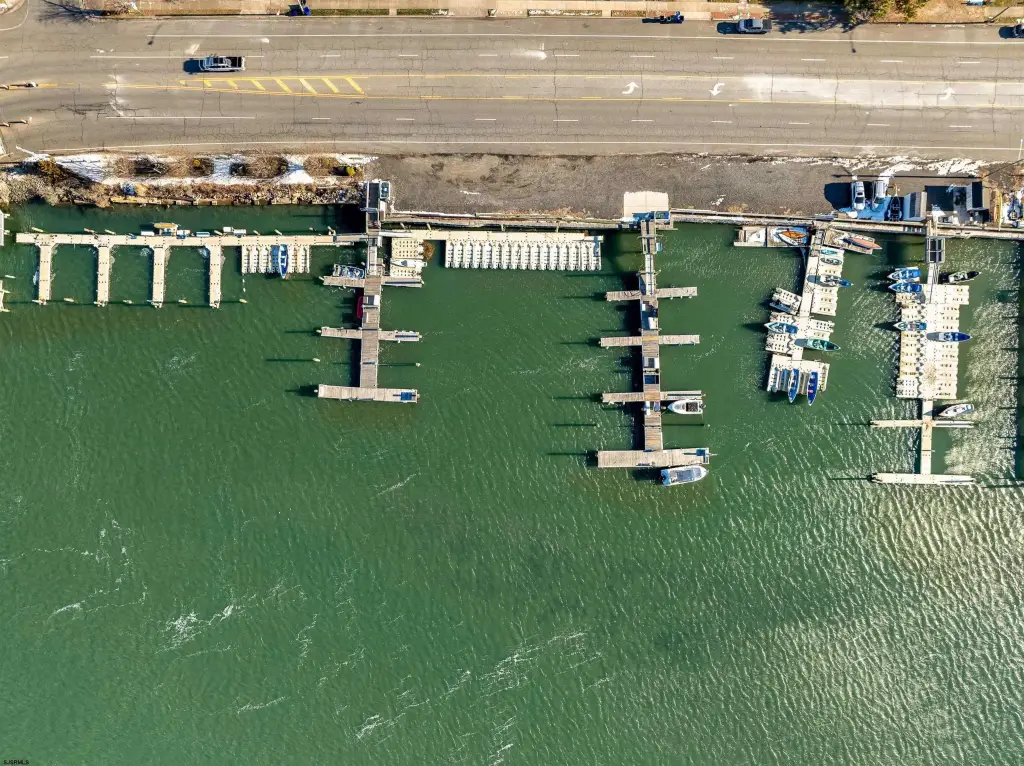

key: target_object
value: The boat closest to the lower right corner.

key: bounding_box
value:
[938,402,975,417]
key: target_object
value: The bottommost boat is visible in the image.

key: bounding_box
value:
[659,466,709,485]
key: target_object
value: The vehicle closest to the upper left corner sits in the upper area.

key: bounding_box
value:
[201,54,245,73]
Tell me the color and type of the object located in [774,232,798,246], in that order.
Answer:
white boat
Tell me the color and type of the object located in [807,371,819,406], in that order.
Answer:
blue boat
